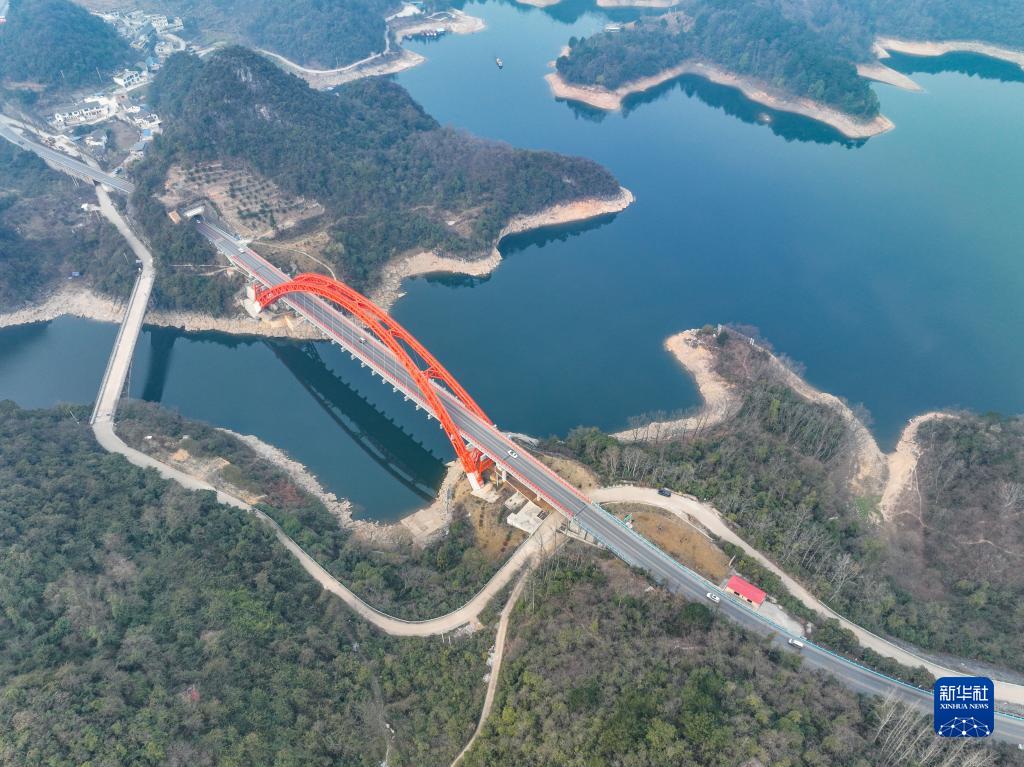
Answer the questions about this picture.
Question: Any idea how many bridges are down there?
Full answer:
Looking from above, you can make out 2 bridges.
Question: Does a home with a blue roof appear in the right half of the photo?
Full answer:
No, no home with a blue roof appears in the right half of the photo.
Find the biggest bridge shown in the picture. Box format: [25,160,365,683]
[204,226,676,583]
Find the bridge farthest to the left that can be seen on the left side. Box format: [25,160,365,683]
[90,285,151,422]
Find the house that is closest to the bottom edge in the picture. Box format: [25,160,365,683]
[725,572,769,609]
